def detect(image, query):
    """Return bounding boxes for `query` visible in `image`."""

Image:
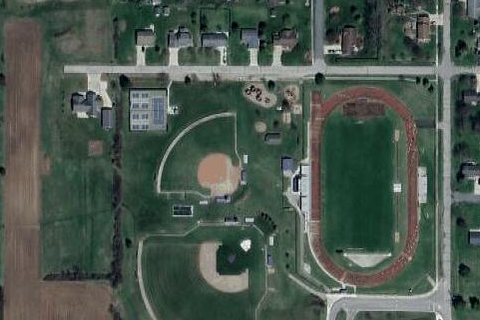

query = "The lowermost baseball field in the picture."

[137,225,266,320]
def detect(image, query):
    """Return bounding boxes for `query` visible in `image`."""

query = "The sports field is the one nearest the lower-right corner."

[323,119,407,251]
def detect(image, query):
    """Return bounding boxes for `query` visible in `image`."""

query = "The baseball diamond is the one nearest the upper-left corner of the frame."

[156,112,241,196]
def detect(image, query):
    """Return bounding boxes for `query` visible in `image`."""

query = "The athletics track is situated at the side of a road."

[310,86,418,287]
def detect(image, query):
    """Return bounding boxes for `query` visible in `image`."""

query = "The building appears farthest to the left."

[72,91,100,113]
